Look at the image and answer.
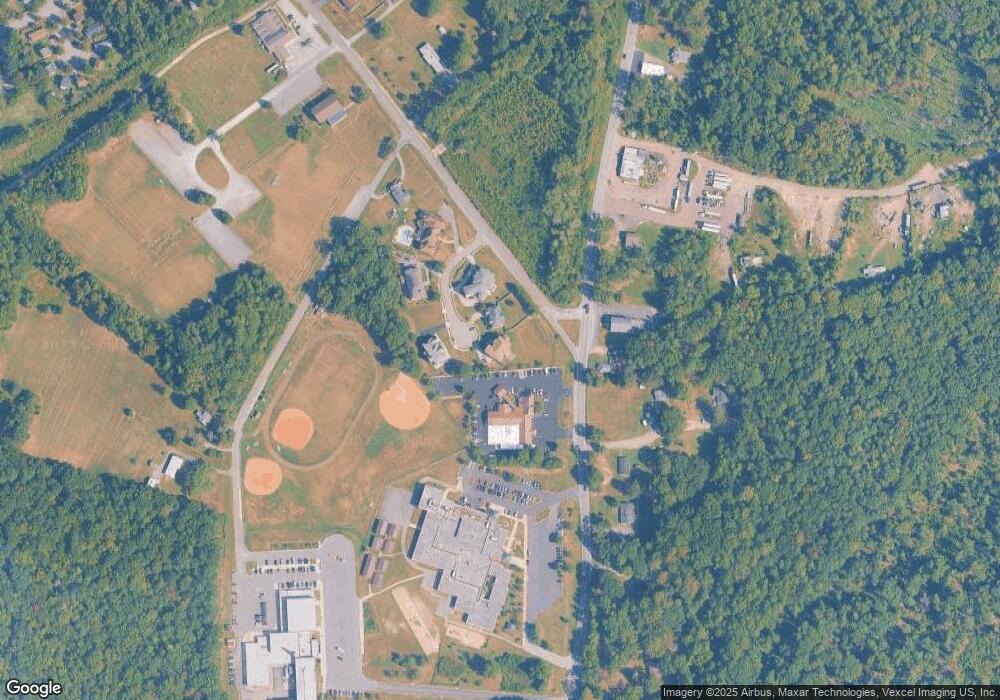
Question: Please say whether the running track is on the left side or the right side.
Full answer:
The running track appears in the left half of the scene.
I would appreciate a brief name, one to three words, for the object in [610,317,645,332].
building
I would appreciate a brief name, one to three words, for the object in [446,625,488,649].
playground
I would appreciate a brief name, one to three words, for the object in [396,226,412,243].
swimming pool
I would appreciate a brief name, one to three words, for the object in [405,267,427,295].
house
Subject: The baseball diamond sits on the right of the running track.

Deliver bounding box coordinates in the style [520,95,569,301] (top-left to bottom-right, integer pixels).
[380,374,430,430]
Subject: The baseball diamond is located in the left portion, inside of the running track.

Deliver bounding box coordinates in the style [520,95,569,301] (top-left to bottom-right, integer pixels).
[271,409,313,449]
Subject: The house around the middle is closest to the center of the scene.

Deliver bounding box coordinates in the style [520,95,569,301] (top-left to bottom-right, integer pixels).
[486,335,513,362]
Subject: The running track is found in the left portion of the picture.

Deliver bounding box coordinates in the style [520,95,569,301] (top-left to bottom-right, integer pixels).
[267,329,380,470]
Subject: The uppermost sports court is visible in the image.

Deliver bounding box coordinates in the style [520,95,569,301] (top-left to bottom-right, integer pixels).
[381,486,411,527]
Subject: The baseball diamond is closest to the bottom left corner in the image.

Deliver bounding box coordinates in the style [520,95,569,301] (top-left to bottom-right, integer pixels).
[243,456,282,495]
